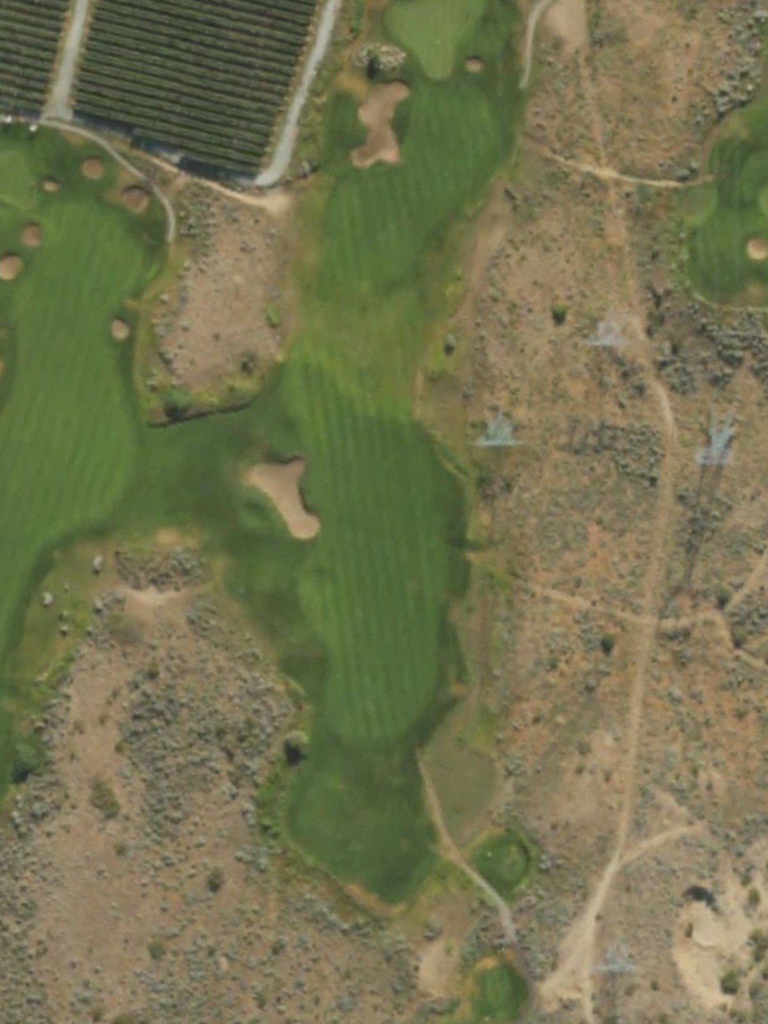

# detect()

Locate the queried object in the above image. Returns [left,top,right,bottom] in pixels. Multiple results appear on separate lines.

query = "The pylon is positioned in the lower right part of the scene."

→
[594,923,641,979]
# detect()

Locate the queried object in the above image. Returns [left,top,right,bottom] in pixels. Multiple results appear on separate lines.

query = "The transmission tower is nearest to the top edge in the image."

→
[589,298,637,348]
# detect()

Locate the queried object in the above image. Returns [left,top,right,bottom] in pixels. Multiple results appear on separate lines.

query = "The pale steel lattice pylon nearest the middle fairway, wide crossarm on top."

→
[476,399,524,450]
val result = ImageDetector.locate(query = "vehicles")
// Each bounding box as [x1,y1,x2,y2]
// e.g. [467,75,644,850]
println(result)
[4,114,12,121]
[29,122,37,130]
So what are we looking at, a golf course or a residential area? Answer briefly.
golf course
